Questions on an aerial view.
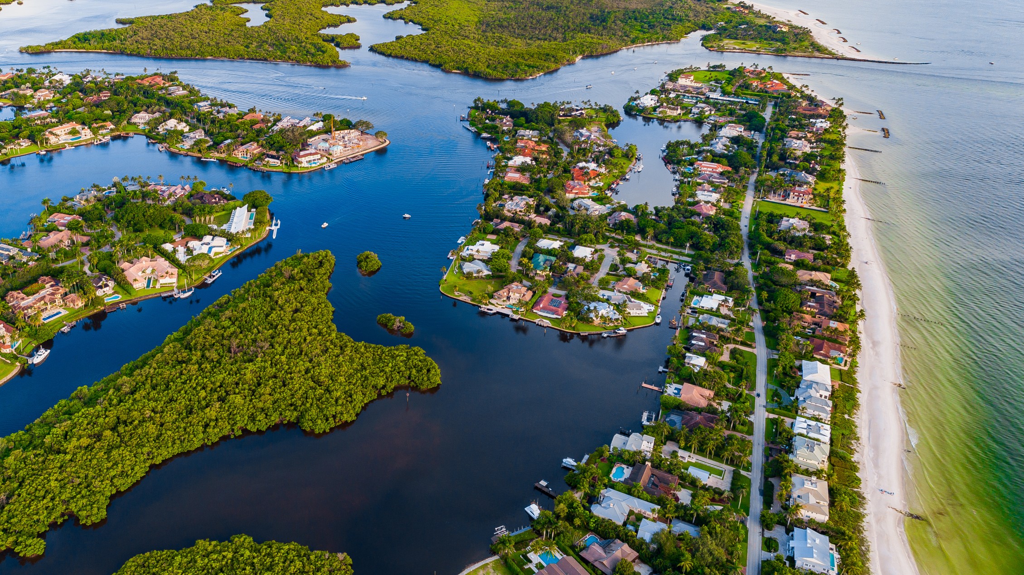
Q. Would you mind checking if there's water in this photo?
Yes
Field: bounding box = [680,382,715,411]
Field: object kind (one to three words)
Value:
house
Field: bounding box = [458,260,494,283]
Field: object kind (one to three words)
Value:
house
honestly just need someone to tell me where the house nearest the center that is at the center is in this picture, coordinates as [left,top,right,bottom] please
[491,282,536,306]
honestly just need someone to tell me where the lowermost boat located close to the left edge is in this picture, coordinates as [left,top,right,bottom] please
[33,348,51,364]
